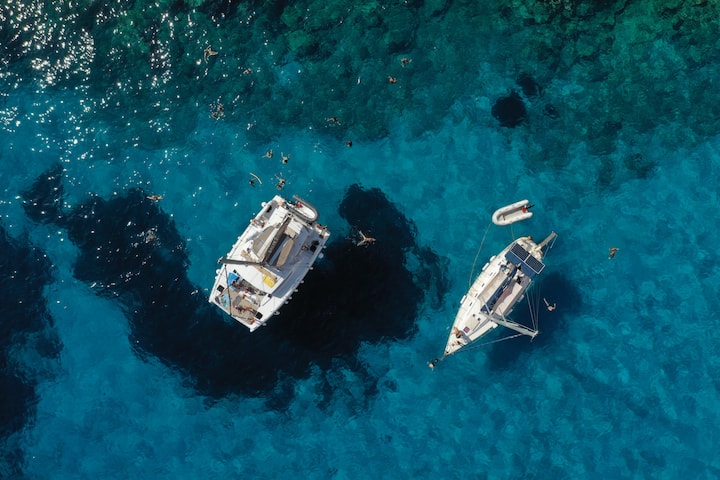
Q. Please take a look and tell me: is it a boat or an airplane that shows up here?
boat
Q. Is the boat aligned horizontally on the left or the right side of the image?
right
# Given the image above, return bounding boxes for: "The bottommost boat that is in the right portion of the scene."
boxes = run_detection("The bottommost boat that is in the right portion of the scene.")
[437,231,562,363]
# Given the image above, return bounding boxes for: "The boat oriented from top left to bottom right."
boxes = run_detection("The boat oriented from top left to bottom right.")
[286,197,318,223]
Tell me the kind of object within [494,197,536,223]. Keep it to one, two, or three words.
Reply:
boat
